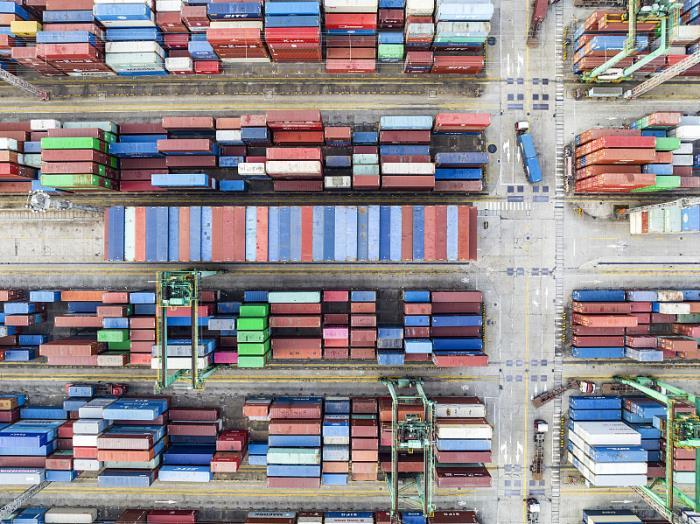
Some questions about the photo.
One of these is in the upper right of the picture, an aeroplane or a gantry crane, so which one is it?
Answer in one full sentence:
You can see a gantry crane in the upper right of the picture.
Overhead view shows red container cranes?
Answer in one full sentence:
No, this view has no red container crane in it.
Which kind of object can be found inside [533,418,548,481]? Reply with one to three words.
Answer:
vehicle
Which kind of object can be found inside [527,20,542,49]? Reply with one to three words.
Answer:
vehicle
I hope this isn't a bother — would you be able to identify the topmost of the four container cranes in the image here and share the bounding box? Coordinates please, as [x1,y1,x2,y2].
[583,0,675,81]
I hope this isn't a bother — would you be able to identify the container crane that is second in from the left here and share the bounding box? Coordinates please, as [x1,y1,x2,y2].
[378,383,434,522]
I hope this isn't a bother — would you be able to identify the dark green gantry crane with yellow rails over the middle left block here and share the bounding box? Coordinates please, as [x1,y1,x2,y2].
[158,269,233,391]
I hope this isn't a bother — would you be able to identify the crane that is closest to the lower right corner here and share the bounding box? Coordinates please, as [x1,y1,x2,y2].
[609,380,700,523]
